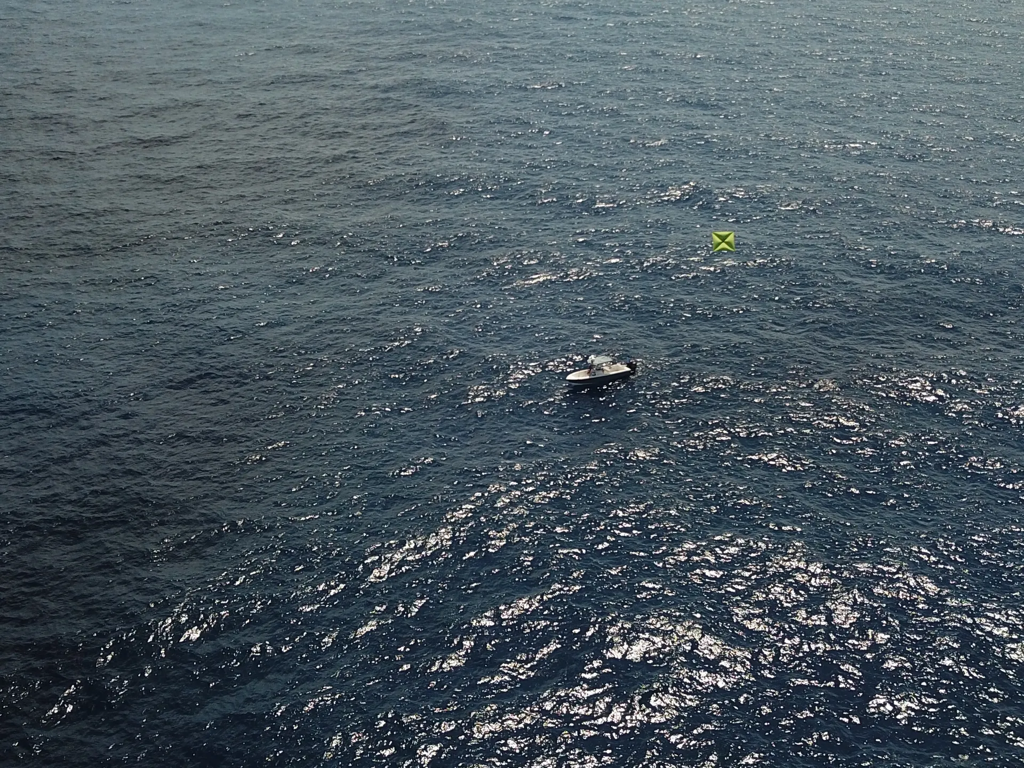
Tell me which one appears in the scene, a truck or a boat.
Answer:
boat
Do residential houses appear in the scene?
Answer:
No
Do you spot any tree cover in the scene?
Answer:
No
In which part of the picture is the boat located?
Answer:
center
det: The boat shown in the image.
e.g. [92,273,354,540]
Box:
[566,350,637,386]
